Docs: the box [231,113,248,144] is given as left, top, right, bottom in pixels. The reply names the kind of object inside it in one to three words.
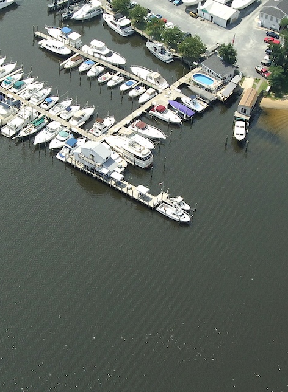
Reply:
boat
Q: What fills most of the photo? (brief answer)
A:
water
